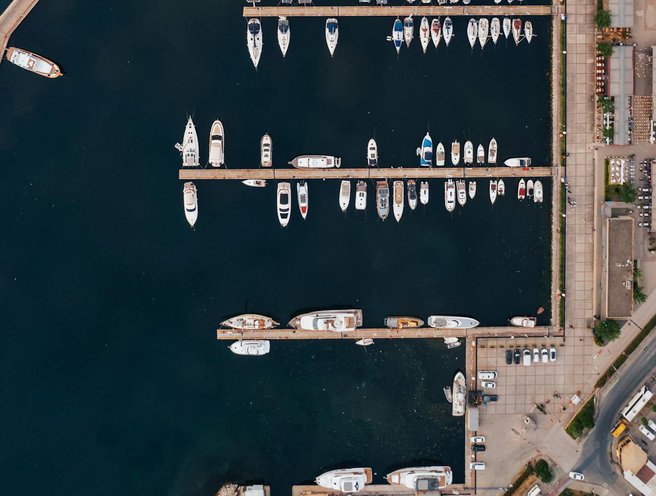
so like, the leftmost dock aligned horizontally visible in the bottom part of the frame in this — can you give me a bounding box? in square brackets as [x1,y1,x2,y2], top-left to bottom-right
[218,326,466,340]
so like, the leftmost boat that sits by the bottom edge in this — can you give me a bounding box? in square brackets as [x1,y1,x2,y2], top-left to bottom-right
[317,465,371,492]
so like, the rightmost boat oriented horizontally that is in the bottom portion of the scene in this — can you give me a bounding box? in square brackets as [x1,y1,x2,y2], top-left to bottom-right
[510,314,537,327]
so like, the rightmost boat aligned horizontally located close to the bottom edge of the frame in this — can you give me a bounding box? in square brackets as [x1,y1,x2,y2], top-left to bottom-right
[388,464,452,491]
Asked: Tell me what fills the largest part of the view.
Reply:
water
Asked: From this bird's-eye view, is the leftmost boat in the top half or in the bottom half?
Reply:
top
